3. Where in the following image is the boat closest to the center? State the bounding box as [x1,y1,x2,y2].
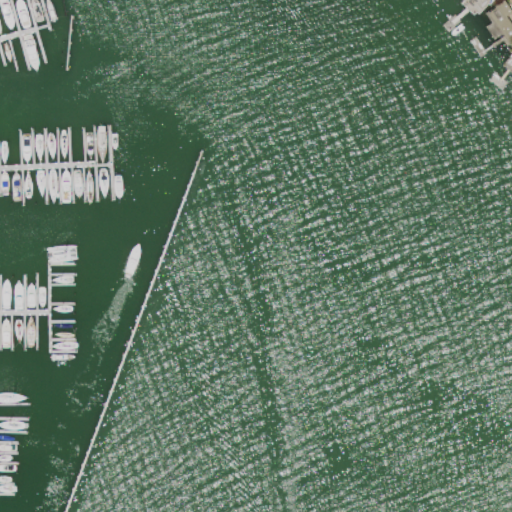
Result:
[124,244,141,280]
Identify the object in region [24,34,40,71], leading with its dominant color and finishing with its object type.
white boat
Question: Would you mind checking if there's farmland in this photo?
No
